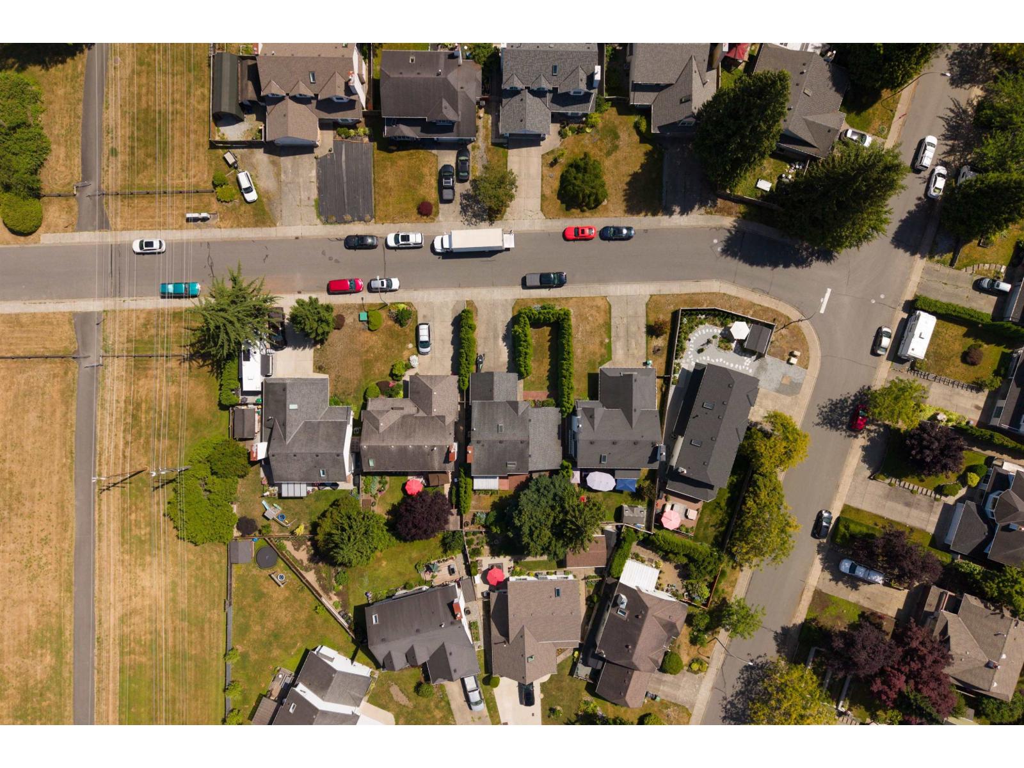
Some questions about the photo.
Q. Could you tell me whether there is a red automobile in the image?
Yes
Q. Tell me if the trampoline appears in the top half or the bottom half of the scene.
bottom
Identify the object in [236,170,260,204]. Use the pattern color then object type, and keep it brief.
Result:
white car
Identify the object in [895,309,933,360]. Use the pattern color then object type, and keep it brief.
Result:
white camper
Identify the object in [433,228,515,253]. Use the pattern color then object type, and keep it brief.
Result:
white truck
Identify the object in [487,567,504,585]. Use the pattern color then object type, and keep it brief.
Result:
red umbrella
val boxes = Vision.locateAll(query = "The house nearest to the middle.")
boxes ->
[466,372,564,477]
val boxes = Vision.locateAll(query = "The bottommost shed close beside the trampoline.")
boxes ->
[231,538,258,565]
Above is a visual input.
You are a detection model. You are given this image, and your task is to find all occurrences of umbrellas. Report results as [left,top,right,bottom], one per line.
[405,478,422,494]
[487,567,504,585]
[587,472,615,491]
[729,322,749,339]
[661,508,681,528]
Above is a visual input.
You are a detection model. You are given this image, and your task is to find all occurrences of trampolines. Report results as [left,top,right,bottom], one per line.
[254,547,274,569]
